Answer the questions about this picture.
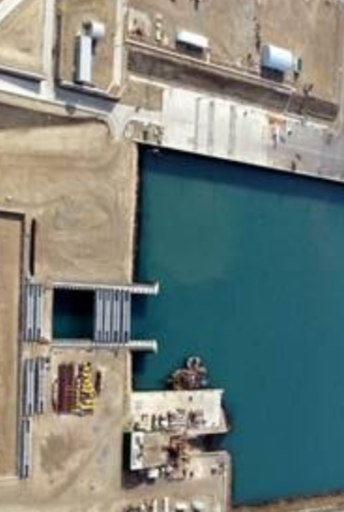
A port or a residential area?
port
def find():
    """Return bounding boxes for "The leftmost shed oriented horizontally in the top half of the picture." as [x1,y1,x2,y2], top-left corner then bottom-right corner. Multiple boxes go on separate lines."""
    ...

[175,30,210,51]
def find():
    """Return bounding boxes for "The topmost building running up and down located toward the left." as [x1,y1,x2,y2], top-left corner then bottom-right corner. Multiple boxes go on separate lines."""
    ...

[76,33,95,83]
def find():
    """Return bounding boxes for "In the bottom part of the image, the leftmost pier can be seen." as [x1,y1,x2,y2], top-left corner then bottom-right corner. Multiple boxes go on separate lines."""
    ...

[43,283,159,351]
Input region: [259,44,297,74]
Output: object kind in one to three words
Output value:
hangar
